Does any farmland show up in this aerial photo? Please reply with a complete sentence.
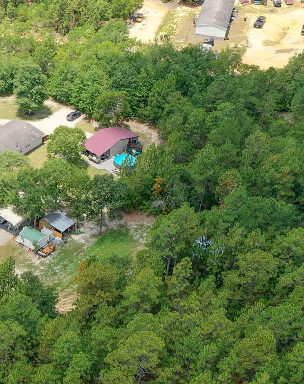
No, there's no farmland in this view.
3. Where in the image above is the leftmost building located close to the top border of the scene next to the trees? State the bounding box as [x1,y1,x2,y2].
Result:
[191,0,240,39]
